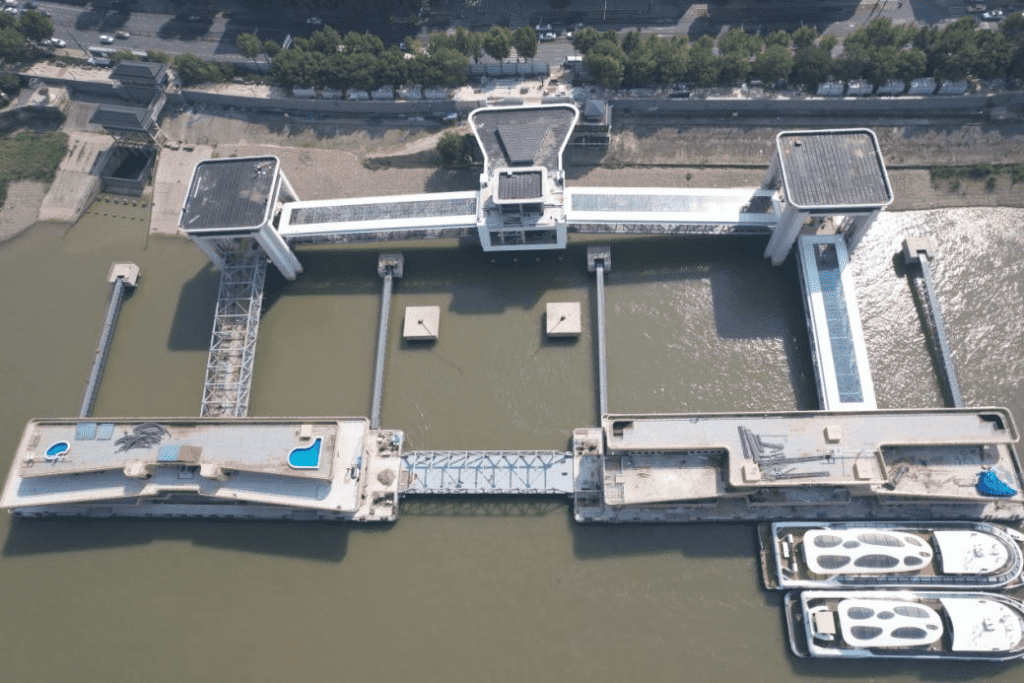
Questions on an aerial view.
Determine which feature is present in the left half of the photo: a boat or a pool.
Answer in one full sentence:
You can see a pool in the left half of the photo.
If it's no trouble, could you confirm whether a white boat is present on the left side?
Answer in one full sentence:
No, I can find no white boat on the left side.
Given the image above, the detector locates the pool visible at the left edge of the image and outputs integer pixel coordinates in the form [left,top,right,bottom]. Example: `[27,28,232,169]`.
[44,440,72,460]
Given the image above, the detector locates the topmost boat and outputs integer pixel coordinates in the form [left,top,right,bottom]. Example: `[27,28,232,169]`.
[759,521,1024,590]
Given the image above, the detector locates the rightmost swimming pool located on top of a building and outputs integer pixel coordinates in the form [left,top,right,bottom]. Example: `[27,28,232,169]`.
[287,436,324,471]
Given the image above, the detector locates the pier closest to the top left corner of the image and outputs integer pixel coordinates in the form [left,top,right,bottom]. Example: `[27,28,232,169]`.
[106,264,146,294]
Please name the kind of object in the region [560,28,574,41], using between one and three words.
vehicle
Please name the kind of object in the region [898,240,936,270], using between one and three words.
pier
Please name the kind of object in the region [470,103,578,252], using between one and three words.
building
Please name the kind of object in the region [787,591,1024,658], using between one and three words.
boat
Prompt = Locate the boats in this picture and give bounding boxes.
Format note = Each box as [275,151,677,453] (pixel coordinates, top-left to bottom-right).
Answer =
[759,521,1024,590]
[787,591,1024,658]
